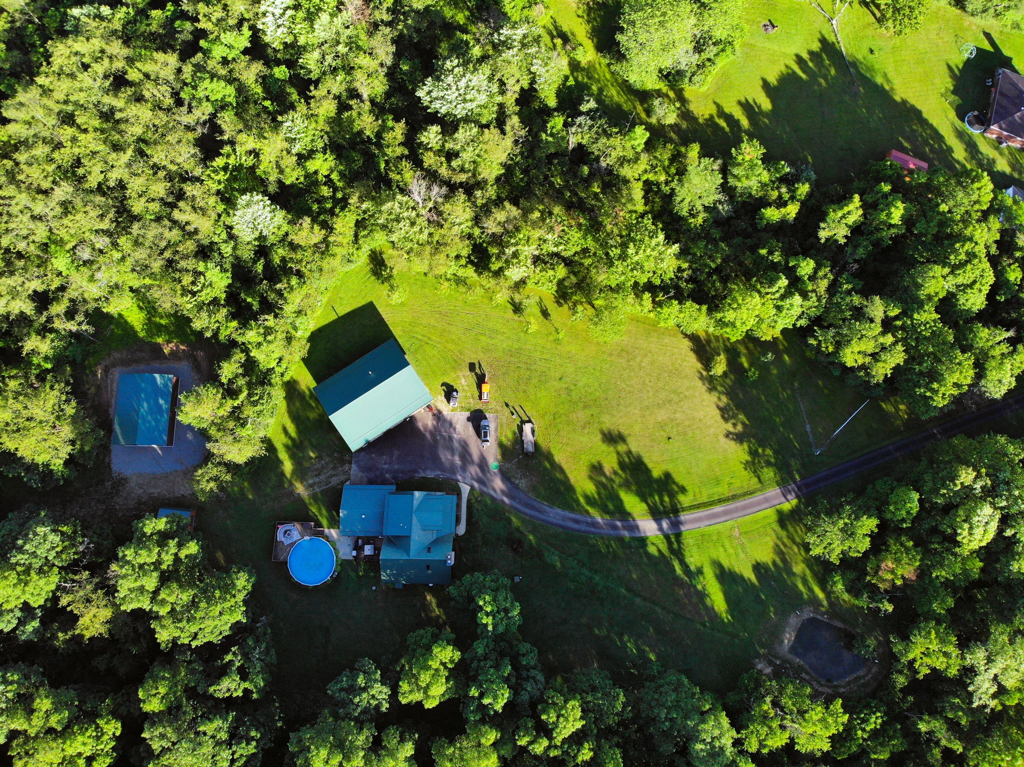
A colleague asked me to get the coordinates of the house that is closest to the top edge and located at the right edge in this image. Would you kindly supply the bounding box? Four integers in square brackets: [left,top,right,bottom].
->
[981,65,1024,140]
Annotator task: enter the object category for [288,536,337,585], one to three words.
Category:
swimming pool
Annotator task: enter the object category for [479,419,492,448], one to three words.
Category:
vehicle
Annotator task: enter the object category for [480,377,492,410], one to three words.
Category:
vehicle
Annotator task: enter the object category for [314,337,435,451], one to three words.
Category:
barn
